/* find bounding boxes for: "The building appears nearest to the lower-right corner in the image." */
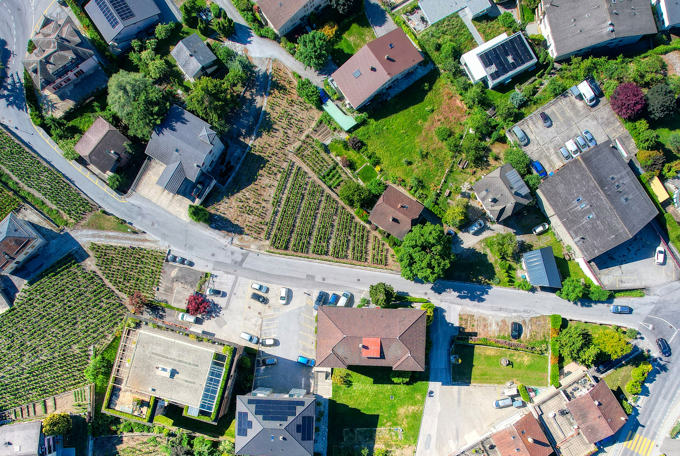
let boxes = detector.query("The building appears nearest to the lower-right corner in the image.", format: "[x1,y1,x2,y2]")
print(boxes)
[565,379,628,444]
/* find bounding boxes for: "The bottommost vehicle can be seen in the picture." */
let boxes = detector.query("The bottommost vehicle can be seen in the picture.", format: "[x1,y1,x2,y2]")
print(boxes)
[596,433,612,448]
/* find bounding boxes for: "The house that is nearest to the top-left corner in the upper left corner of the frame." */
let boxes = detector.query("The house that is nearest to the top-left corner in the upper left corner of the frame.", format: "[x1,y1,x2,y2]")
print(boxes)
[23,16,100,94]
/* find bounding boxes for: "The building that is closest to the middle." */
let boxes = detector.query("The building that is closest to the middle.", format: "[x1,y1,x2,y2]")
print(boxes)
[368,183,424,239]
